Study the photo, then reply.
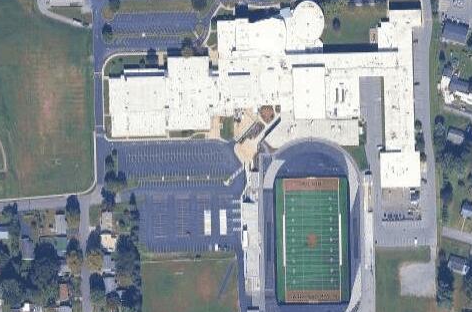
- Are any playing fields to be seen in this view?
Yes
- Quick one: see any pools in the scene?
No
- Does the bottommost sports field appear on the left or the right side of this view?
right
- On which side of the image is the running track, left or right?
right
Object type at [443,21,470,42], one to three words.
house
